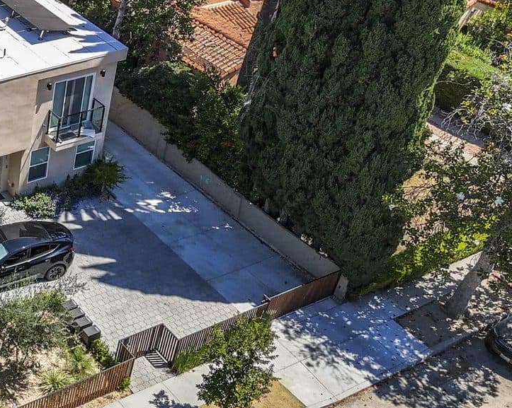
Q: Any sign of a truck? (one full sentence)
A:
No, I can see no truck in this picture.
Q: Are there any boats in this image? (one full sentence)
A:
No, there's no boat here.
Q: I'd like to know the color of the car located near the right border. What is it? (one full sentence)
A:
The color of the car located near the right border is black.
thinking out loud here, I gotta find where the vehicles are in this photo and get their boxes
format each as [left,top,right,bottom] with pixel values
[471,308,512,376]
[0,221,75,292]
